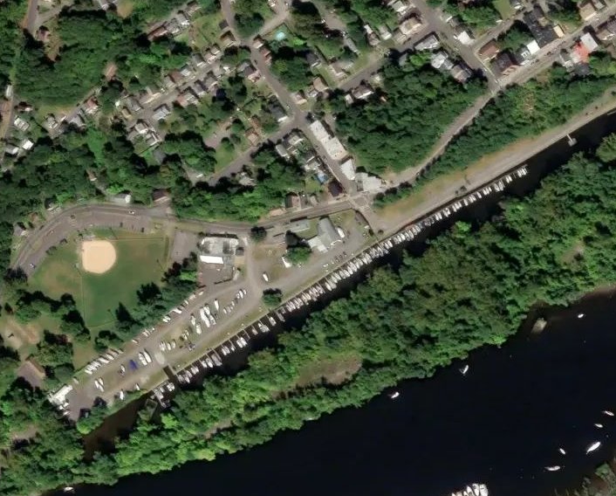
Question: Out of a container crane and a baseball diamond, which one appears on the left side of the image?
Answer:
baseball diamond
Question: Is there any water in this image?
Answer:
Yes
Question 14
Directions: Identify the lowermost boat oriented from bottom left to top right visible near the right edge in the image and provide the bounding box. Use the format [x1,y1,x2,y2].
[587,440,603,455]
